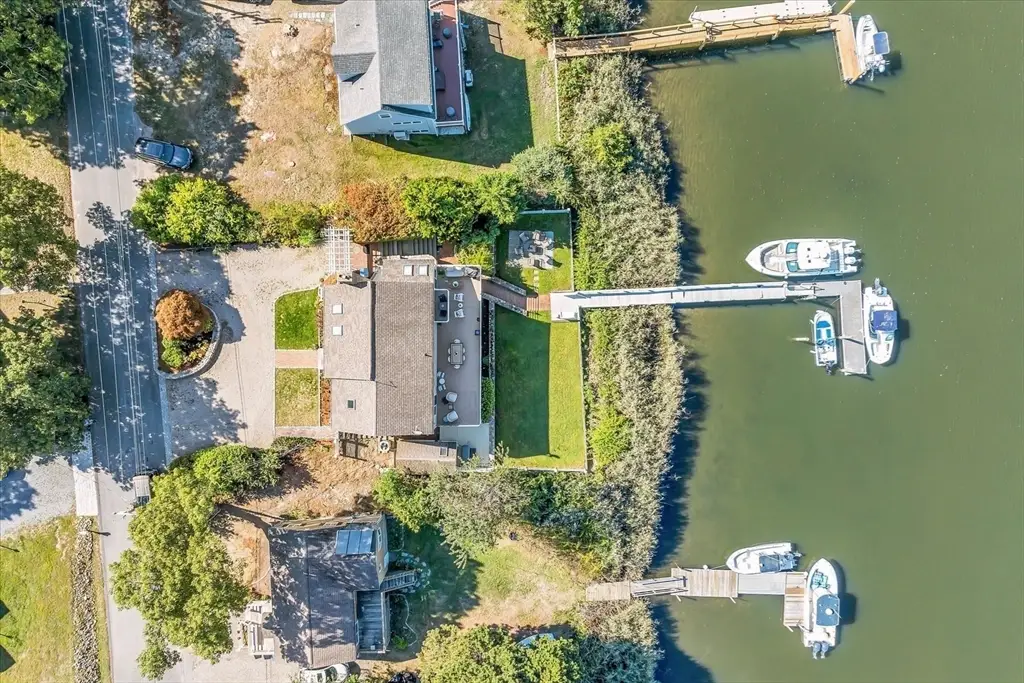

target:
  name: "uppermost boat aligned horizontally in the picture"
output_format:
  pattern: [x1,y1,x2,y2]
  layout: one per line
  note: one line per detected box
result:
[745,238,861,280]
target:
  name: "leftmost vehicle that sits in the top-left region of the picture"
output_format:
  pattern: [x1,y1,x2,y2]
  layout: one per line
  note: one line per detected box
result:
[135,137,197,173]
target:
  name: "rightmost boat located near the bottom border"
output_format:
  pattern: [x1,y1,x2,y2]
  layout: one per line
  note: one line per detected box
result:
[804,557,841,653]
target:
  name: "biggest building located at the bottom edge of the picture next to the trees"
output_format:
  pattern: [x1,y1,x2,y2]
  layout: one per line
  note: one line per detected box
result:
[269,516,390,664]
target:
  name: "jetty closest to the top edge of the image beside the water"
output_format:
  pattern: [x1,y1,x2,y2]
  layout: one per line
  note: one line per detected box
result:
[547,13,832,63]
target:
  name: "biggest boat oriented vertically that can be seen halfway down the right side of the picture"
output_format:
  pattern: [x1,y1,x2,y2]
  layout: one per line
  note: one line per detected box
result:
[862,283,898,364]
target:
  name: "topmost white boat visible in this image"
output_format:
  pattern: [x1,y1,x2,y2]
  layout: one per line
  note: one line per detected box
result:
[858,14,890,82]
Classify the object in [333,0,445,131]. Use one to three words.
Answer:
house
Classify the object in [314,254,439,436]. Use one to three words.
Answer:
house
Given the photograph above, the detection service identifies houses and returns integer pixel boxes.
[333,0,445,131]
[269,516,390,664]
[314,254,439,436]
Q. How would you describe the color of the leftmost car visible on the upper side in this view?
blue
